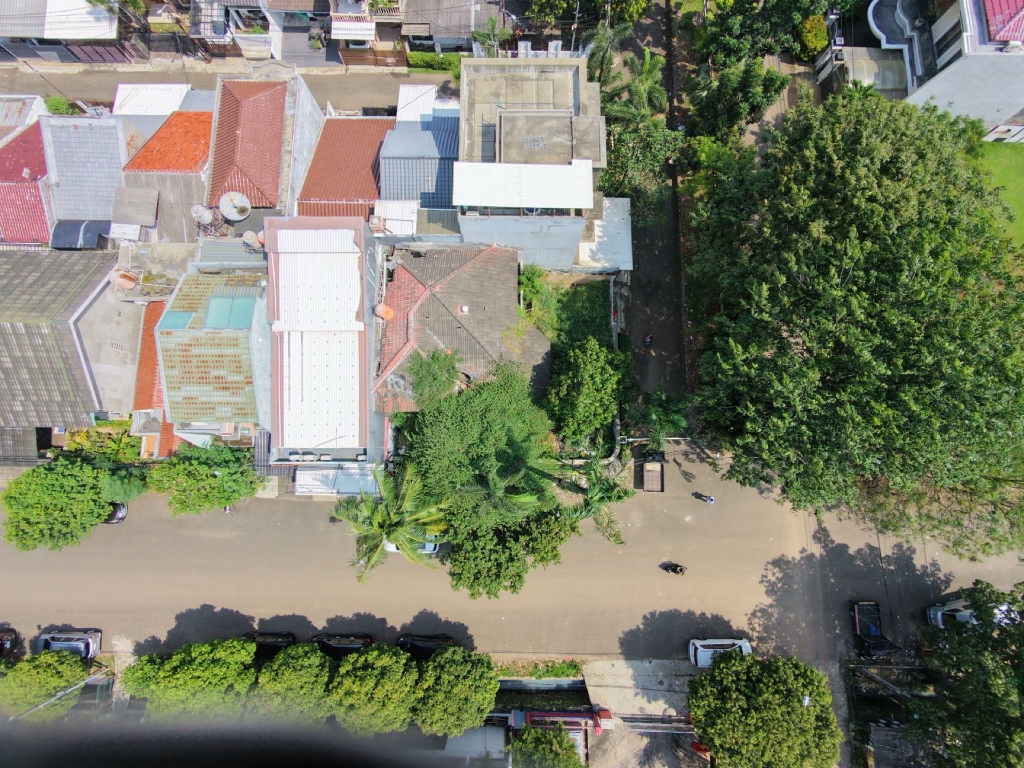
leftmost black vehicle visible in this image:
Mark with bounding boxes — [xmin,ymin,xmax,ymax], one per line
[0,628,20,657]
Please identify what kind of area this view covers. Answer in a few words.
residential area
